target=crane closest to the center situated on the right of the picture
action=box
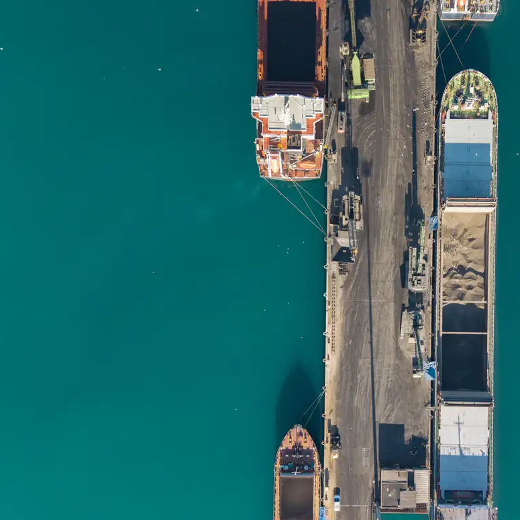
[340,192,363,262]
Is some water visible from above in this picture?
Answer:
Yes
